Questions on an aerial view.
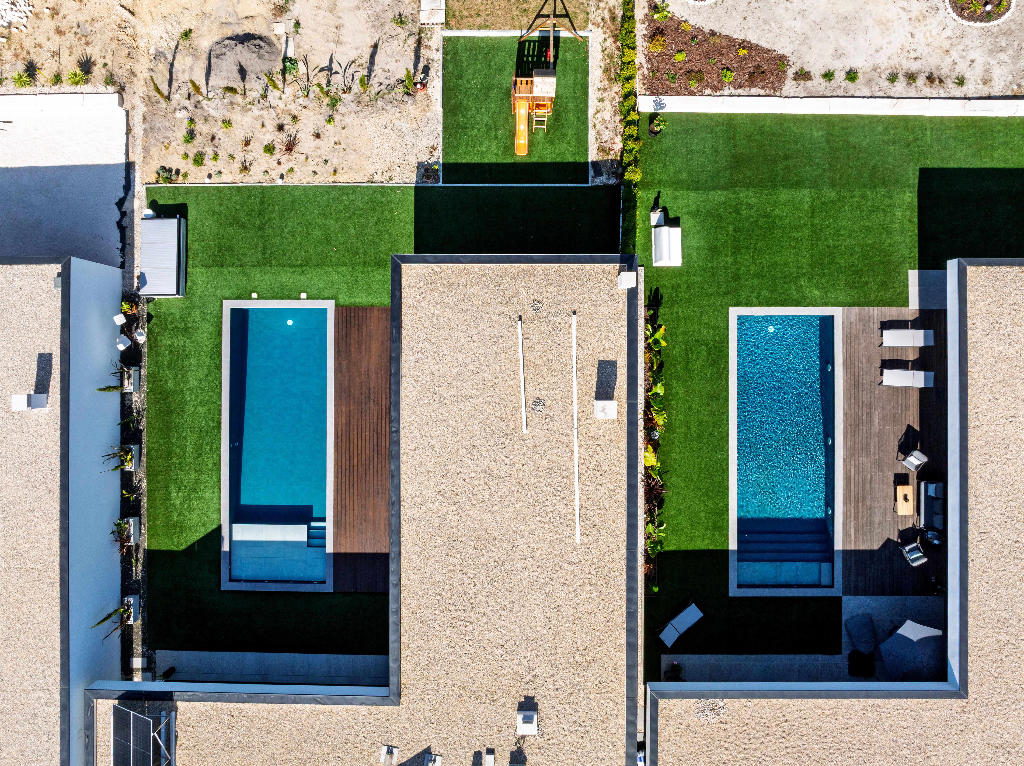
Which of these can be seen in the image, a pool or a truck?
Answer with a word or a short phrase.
pool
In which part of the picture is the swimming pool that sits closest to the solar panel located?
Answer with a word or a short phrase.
left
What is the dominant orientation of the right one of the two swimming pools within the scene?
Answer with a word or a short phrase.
vertically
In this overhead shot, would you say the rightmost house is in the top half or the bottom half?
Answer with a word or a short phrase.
bottom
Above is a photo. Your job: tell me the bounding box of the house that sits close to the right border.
[643,259,1024,766]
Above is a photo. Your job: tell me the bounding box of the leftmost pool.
[222,300,334,591]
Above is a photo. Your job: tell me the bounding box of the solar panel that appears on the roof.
[111,704,174,766]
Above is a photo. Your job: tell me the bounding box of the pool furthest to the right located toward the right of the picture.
[729,307,842,596]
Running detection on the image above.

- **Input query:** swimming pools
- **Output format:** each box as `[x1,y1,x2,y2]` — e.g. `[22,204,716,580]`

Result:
[729,307,842,596]
[222,300,334,591]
